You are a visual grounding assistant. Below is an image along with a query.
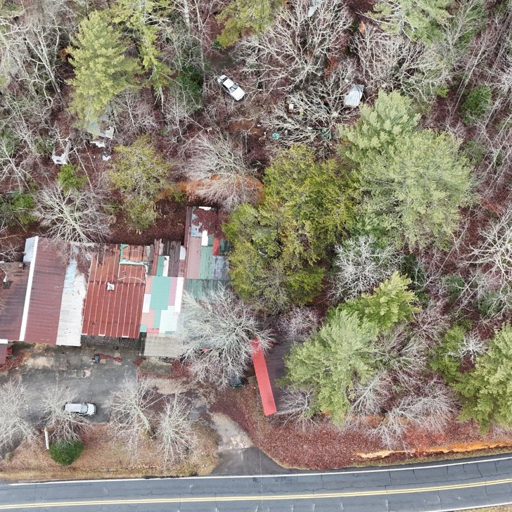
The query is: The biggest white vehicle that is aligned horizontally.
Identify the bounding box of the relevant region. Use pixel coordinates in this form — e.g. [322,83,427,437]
[64,402,97,418]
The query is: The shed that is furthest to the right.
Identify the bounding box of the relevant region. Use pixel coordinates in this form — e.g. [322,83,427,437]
[343,85,364,111]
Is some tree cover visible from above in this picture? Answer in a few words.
Yes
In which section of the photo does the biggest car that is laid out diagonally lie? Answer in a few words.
top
